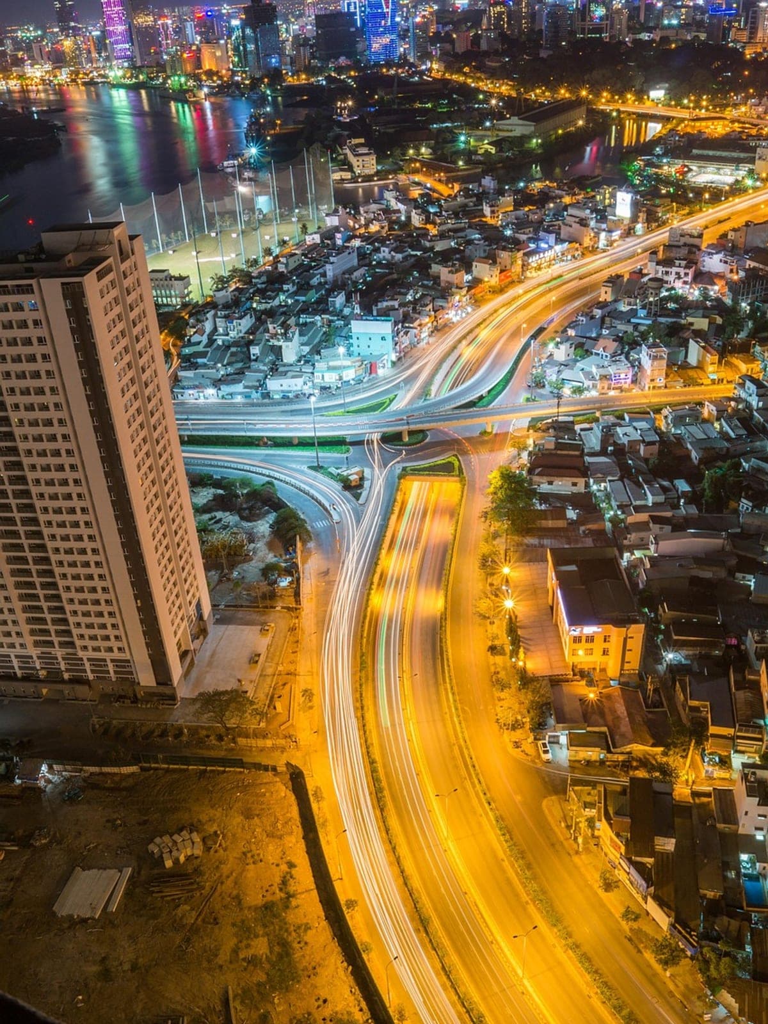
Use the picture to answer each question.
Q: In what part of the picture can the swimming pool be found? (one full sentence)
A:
The swimming pool appears toward the bottom right of the photo.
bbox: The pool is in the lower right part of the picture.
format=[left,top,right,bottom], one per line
[736,857,768,909]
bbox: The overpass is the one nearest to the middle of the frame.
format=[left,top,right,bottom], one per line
[172,320,745,443]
